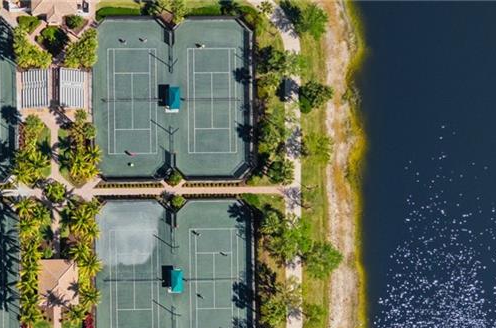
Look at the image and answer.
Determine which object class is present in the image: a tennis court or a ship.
tennis court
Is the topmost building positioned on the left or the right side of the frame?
left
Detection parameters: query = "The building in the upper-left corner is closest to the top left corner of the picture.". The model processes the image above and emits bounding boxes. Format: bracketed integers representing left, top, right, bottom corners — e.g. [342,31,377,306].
[32,0,77,29]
